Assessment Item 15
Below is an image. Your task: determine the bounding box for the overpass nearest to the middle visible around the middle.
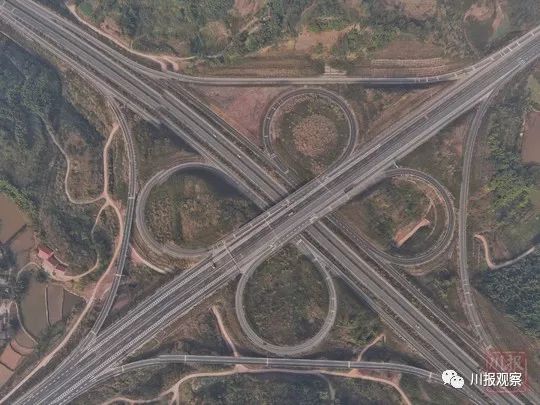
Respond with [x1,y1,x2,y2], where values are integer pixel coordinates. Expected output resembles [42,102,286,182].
[219,176,339,272]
